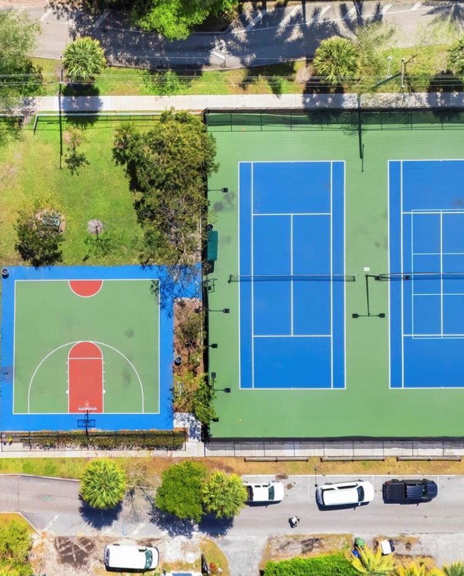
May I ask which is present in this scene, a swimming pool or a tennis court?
tennis court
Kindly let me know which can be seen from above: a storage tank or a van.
van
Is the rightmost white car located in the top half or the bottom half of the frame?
bottom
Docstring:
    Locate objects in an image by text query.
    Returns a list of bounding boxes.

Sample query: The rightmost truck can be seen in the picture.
[378,478,436,504]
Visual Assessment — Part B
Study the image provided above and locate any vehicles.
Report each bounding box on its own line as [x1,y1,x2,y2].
[378,478,436,504]
[315,481,371,506]
[103,542,158,570]
[229,479,285,506]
